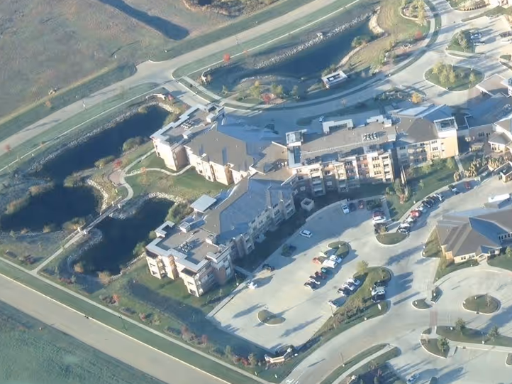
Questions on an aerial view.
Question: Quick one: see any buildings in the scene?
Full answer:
Yes, this view includes a building.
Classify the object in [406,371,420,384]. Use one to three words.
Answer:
vehicle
